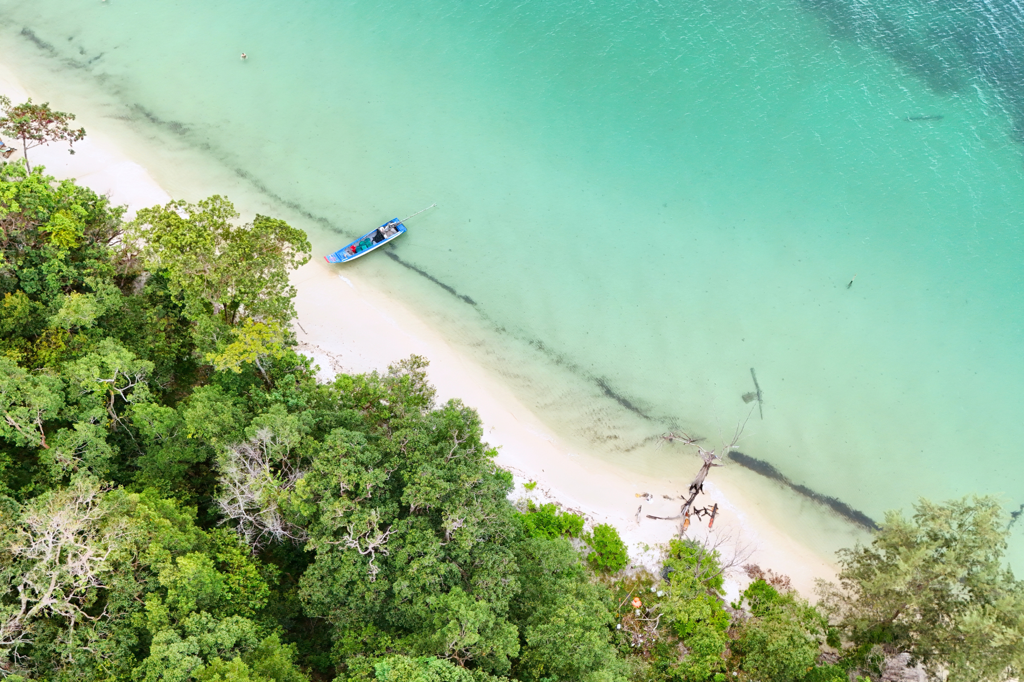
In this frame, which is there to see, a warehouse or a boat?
boat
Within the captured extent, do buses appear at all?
No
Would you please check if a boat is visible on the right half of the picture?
No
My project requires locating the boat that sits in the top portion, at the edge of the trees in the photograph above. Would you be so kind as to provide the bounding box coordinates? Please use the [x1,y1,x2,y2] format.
[322,202,437,264]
